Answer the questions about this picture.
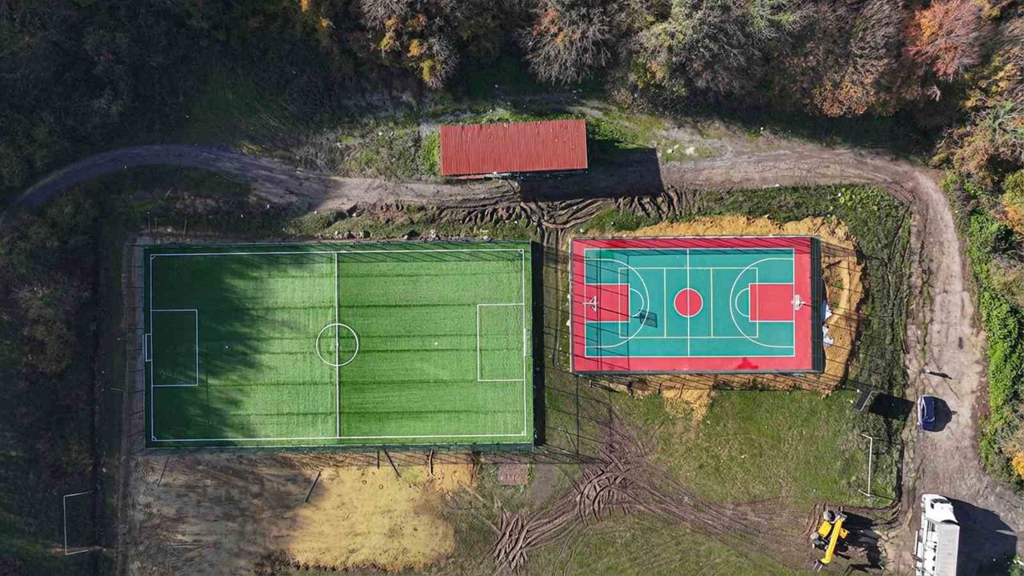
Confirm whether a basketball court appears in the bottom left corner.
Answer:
No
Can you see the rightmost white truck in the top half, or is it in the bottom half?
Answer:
bottom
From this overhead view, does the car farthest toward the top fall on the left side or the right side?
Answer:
right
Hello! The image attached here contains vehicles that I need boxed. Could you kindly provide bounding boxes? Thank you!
[917,395,938,430]
[811,510,848,576]
[916,494,957,576]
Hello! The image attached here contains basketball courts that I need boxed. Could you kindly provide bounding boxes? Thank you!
[569,237,813,373]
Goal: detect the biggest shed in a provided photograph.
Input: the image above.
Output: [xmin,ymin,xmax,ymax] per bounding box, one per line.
[439,120,589,184]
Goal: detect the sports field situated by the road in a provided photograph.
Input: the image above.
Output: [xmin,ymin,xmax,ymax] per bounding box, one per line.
[143,240,533,449]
